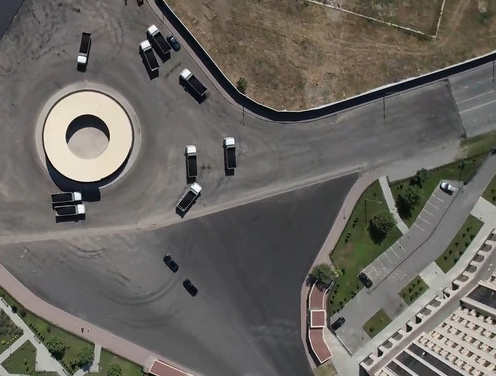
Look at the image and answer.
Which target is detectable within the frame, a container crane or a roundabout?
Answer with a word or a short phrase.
roundabout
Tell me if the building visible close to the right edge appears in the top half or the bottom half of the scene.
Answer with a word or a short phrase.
bottom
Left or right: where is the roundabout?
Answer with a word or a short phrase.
left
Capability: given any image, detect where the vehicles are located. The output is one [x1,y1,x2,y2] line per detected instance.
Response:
[179,66,208,98]
[185,145,198,177]
[331,316,346,330]
[358,272,372,287]
[52,191,83,202]
[176,181,200,211]
[140,39,161,71]
[223,136,237,169]
[440,181,457,192]
[148,24,171,55]
[167,35,179,51]
[55,203,87,215]
[77,33,91,64]
[164,254,177,270]
[184,279,197,295]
